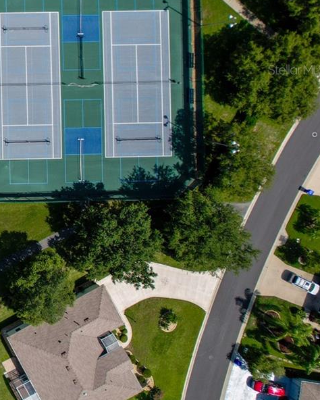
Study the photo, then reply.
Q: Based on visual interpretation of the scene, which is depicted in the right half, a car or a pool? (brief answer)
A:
car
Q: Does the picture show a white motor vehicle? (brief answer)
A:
Yes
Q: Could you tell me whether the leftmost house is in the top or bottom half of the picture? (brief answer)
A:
bottom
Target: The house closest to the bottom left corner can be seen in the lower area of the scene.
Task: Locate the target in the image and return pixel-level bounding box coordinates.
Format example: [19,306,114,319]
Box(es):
[6,284,143,400]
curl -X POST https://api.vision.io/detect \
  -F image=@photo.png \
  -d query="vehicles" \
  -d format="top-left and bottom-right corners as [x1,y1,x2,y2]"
[291,273,320,292]
[256,378,286,396]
